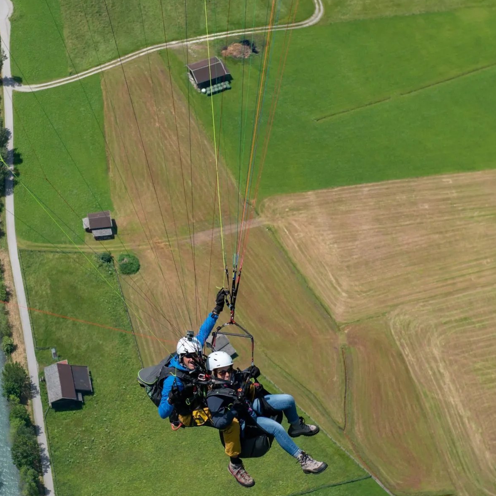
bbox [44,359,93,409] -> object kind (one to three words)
house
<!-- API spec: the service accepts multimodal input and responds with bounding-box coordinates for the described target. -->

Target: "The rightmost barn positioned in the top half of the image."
[188,57,232,89]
